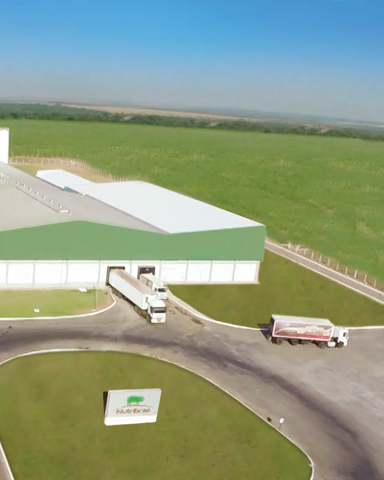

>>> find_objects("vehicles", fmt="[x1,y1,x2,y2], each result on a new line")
[111,266,173,319]
[270,313,352,348]
[141,270,179,301]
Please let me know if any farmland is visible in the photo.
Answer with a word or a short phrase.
Yes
